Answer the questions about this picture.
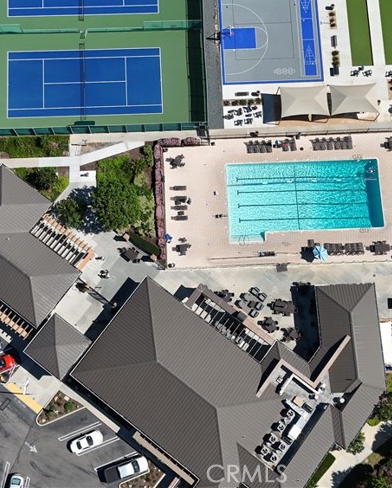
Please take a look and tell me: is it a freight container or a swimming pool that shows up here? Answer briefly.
swimming pool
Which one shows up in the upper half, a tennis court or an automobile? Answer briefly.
tennis court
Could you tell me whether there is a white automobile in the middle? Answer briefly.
No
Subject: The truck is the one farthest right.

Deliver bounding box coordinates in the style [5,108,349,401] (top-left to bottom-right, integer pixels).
[103,456,148,483]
